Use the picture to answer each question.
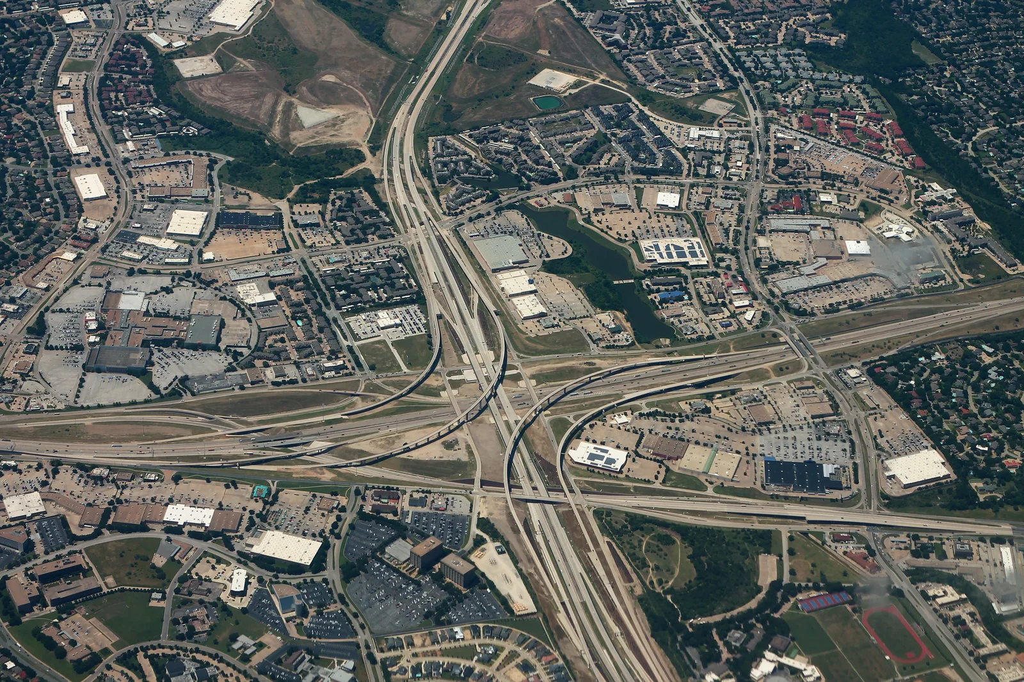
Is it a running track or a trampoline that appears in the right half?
running track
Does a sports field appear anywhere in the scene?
Yes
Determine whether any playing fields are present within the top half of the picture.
No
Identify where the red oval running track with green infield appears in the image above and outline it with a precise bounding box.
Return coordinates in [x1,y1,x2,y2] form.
[863,604,940,667]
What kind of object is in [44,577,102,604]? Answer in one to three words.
building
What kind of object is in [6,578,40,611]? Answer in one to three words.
building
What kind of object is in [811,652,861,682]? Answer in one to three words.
sports field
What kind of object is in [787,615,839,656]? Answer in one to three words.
sports field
